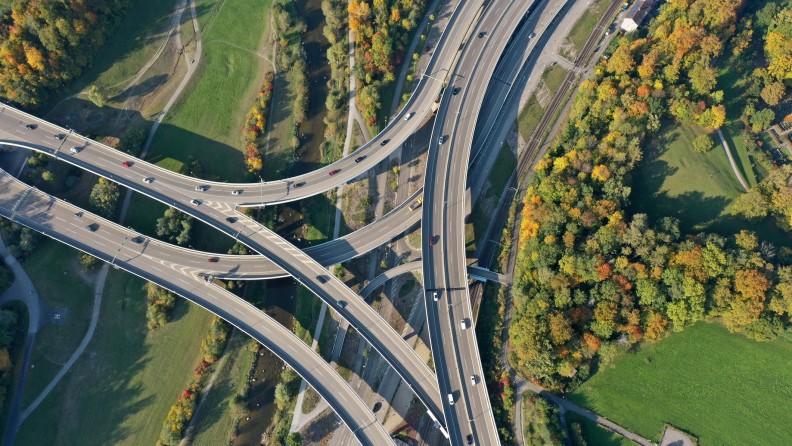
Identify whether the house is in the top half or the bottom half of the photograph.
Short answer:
top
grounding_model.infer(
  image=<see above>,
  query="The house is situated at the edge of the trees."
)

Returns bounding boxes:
[620,0,656,30]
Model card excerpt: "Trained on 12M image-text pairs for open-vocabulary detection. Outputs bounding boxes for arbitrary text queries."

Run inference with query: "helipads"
[51,307,67,325]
